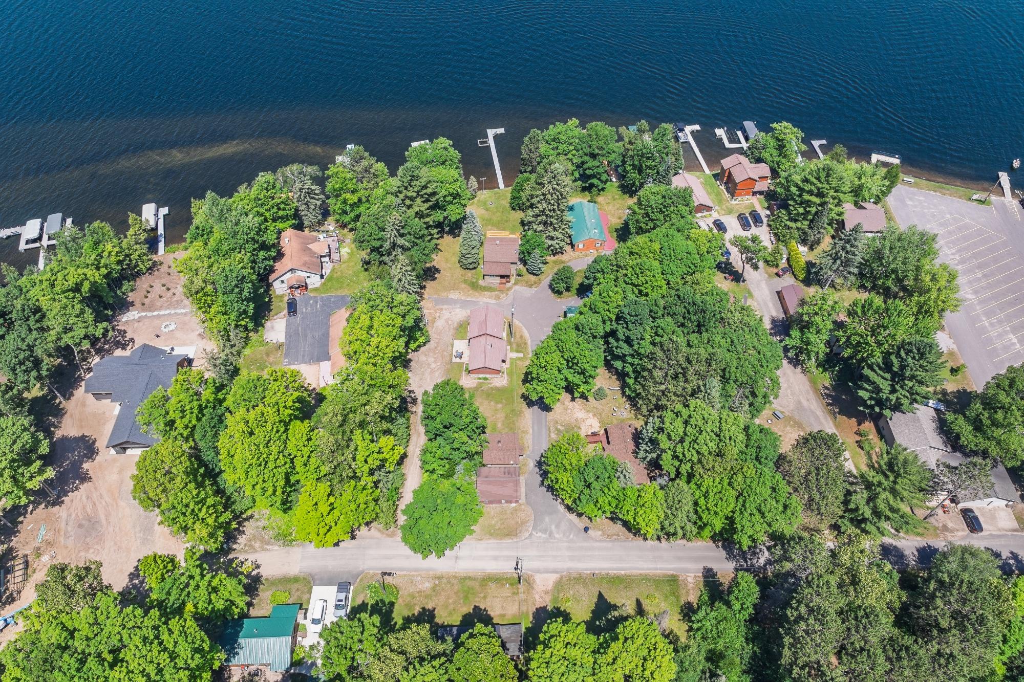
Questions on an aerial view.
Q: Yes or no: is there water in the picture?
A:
Yes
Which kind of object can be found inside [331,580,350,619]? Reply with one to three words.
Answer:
vehicle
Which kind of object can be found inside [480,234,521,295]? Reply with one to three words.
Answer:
house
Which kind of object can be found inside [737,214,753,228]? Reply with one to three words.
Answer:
car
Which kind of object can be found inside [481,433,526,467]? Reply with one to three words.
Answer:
building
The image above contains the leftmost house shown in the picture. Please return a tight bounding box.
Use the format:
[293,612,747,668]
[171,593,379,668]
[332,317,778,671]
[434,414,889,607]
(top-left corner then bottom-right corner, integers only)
[79,342,190,455]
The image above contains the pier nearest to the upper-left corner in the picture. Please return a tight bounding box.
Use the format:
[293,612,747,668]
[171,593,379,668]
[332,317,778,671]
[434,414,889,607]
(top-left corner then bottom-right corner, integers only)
[16,218,72,272]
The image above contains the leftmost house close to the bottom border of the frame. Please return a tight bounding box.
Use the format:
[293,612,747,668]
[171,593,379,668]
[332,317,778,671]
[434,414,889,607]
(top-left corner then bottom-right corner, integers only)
[217,605,311,676]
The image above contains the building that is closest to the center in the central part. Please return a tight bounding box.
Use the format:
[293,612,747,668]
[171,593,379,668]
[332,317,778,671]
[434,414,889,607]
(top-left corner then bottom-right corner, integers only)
[467,303,508,378]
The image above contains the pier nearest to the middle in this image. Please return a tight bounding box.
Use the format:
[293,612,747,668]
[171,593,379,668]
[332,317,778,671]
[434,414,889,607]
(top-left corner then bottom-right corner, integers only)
[490,128,505,189]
